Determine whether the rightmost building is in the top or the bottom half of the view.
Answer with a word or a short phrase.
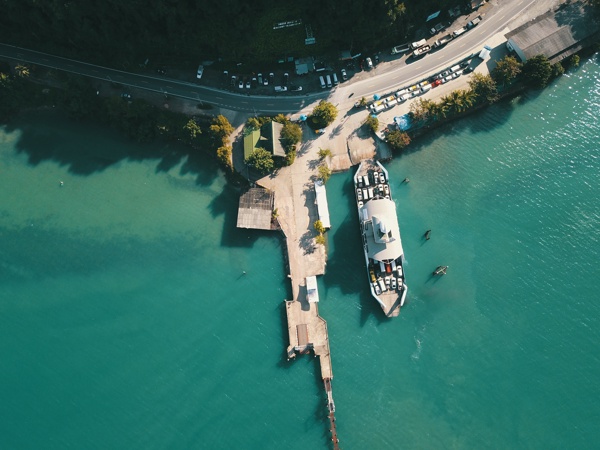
top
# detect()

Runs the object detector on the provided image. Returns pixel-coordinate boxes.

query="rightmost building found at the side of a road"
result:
[504,0,600,64]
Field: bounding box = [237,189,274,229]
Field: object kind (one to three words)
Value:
building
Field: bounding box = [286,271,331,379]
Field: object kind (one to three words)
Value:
pier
